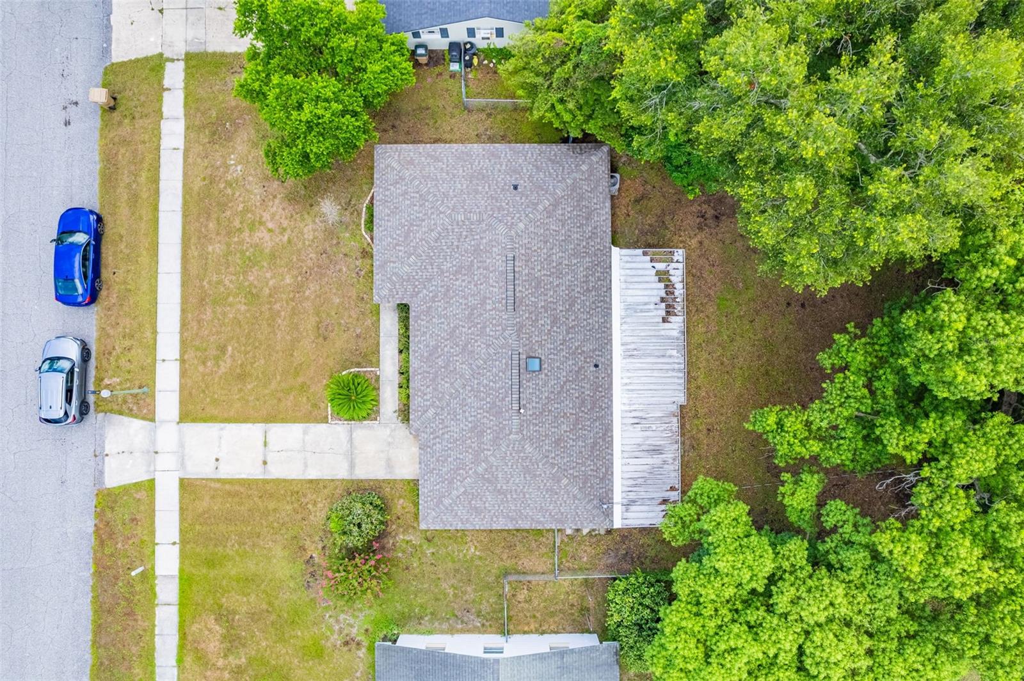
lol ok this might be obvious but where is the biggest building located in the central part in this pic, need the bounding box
[372,142,615,531]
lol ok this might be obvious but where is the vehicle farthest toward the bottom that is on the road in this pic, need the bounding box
[33,336,90,428]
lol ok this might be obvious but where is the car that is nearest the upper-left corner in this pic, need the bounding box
[48,208,104,306]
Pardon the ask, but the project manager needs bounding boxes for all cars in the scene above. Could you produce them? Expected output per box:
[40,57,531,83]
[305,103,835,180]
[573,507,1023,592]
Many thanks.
[48,208,104,306]
[33,336,90,428]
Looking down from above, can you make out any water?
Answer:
No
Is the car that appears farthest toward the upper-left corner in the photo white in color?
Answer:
No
